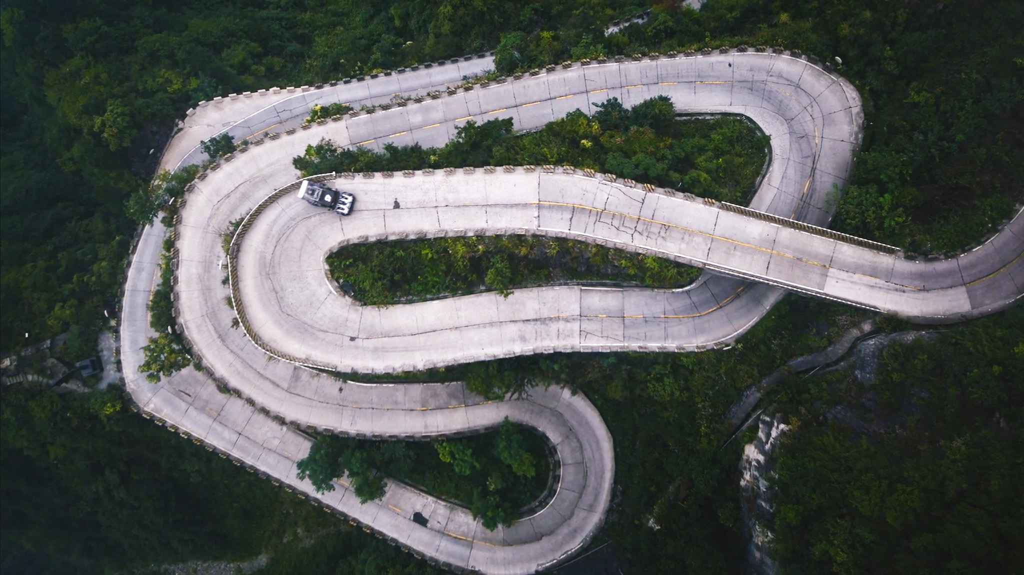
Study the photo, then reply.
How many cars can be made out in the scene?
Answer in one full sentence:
The picture shows 1 car.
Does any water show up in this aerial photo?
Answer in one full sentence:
No, the scene doesn't show any water.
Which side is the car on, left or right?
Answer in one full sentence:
The car sits on the left side.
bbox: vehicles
[294,177,355,214]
